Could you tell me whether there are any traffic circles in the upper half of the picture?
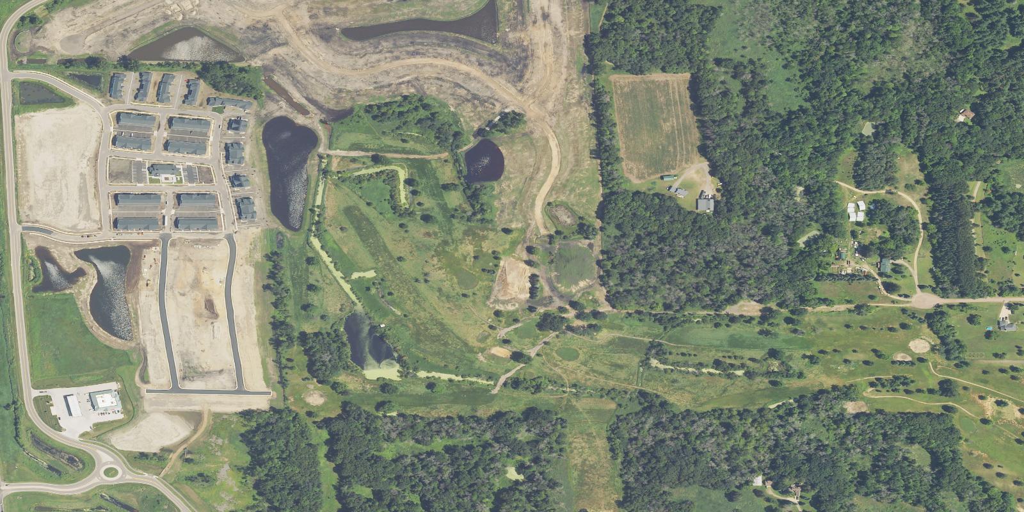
No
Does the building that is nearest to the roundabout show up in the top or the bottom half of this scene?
bottom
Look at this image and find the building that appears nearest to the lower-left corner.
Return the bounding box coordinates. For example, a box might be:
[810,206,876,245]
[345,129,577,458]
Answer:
[91,389,121,411]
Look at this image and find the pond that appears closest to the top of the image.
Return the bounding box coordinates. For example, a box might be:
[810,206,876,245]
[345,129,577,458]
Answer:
[342,0,498,43]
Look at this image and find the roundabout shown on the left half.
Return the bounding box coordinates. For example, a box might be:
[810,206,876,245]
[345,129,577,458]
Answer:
[81,446,135,489]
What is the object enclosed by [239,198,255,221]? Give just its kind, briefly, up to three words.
house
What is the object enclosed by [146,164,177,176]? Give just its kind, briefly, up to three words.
building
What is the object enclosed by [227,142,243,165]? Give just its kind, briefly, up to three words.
house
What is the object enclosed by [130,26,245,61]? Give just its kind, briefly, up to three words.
pond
